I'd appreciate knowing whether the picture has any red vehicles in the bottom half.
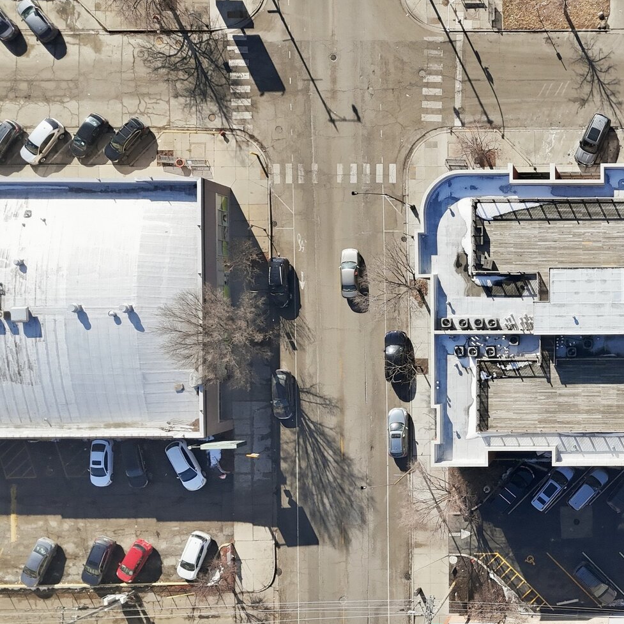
Yes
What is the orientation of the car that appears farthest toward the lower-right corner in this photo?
diagonally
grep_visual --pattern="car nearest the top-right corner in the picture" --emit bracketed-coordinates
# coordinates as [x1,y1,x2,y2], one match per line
[577,114,611,166]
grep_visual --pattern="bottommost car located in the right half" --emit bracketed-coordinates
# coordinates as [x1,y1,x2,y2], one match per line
[572,558,619,608]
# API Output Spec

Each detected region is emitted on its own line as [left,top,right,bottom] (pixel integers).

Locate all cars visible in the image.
[384,407,410,458]
[269,368,296,419]
[572,558,619,608]
[25,117,66,165]
[0,1,28,52]
[81,535,117,586]
[105,114,150,165]
[87,437,117,489]
[386,329,411,383]
[72,110,113,163]
[23,534,60,587]
[266,256,293,308]
[565,467,610,514]
[0,115,32,165]
[120,537,155,582]
[577,114,611,166]
[529,467,575,513]
[18,0,62,47]
[178,529,213,580]
[337,248,362,298]
[121,437,153,489]
[486,465,535,514]
[165,437,208,491]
